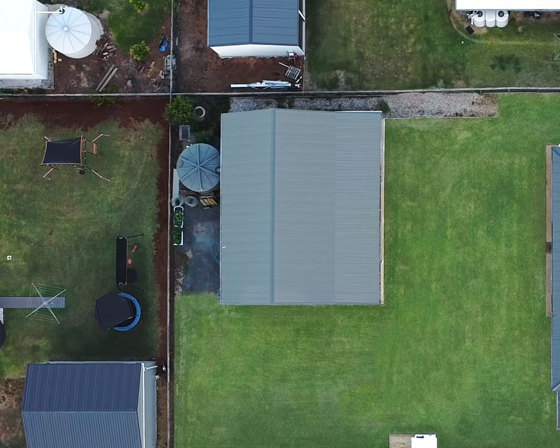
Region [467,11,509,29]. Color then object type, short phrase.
white water tank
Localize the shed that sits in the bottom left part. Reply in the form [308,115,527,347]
[21,362,156,448]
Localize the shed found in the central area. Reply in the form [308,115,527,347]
[220,108,383,304]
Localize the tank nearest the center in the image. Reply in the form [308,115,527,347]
[176,145,220,193]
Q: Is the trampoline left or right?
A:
left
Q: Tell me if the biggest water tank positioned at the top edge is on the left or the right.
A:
left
